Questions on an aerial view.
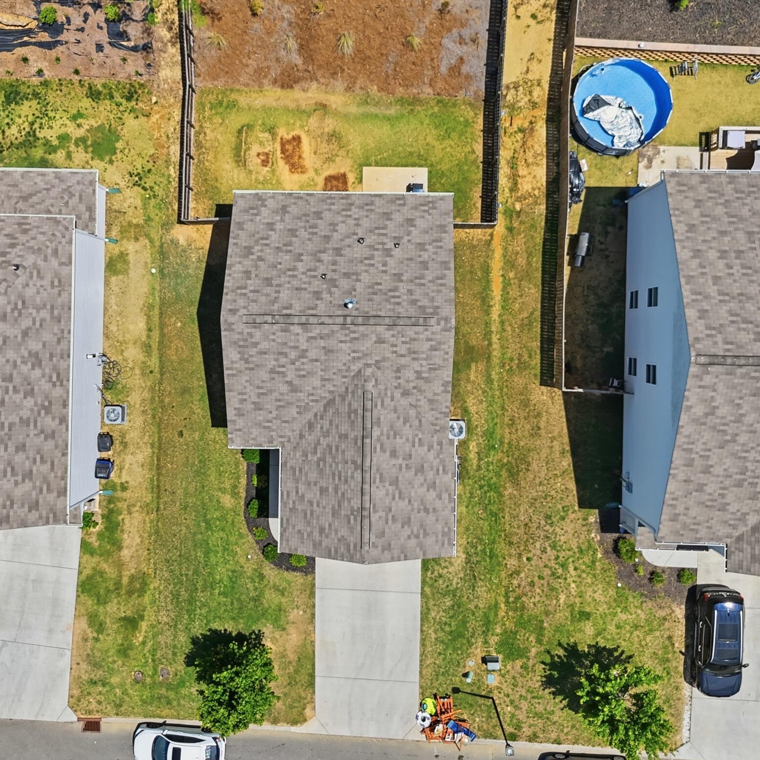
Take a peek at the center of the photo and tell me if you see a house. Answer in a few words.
Yes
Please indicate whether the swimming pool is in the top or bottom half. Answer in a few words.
top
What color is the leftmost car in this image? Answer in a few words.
white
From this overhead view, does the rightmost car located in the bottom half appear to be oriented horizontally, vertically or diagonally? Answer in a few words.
vertically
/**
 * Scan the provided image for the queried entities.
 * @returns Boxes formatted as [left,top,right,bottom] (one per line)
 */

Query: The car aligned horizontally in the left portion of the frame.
[133,721,227,760]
